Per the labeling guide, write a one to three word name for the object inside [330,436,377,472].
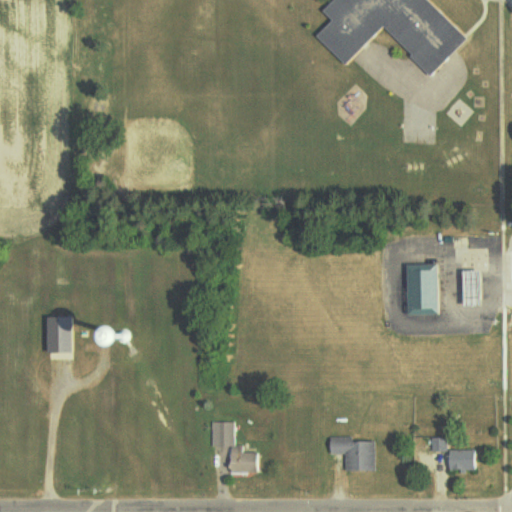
house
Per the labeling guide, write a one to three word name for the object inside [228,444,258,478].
house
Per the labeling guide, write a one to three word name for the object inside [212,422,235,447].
building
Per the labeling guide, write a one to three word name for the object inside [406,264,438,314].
building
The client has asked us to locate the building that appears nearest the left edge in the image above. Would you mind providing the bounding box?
[47,317,74,352]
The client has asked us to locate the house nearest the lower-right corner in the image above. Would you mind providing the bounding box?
[448,450,474,473]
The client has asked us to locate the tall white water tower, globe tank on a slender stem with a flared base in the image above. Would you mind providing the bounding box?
[92,327,132,349]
